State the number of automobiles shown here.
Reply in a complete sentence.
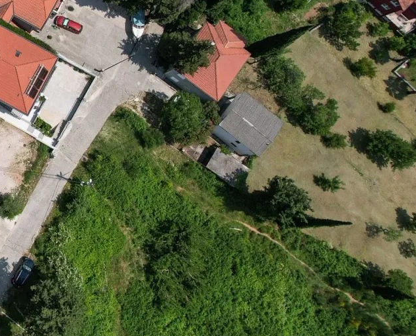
There are 2 automobiles in the image.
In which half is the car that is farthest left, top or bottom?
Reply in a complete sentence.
The car that is farthest left is in the bottom half of the image.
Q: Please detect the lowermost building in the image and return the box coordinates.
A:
[199,148,250,188]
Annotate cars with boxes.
[10,256,33,287]
[53,15,83,35]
